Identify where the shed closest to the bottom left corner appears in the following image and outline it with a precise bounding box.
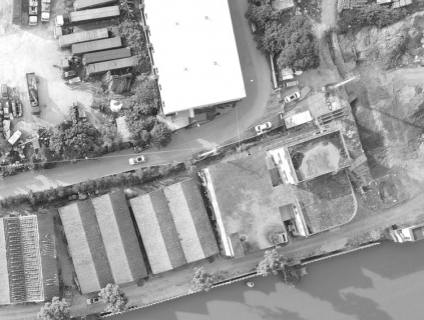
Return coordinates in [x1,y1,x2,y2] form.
[0,215,60,305]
